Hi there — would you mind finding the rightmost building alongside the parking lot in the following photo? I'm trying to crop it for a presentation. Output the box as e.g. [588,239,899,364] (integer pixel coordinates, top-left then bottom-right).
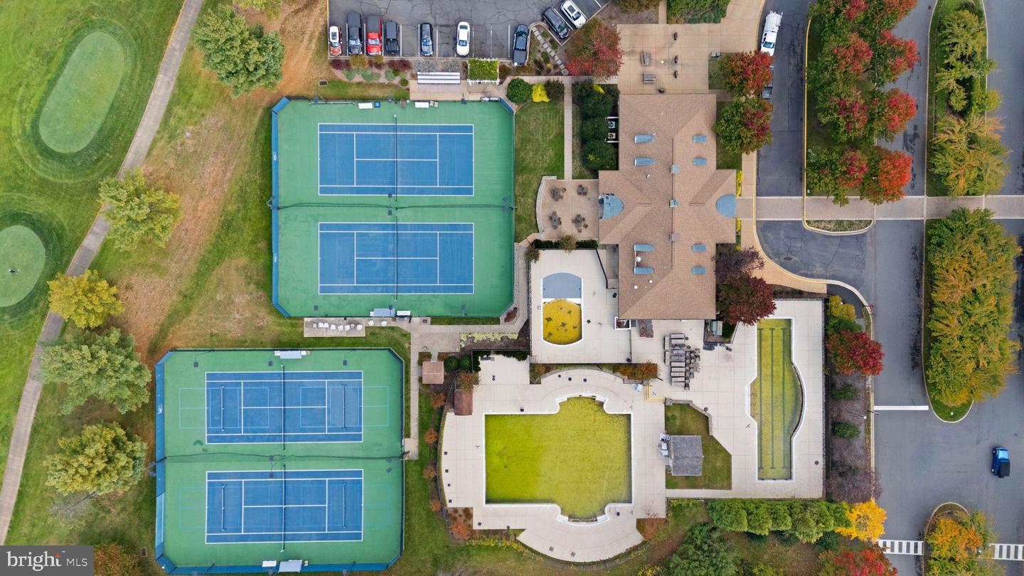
[598,94,736,319]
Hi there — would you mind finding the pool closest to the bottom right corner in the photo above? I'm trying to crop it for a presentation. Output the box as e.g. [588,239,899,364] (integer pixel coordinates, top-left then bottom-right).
[748,316,805,482]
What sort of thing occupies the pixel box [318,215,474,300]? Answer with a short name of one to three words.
tennis court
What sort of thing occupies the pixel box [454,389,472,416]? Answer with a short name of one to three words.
shed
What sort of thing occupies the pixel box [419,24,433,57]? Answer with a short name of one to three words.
car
